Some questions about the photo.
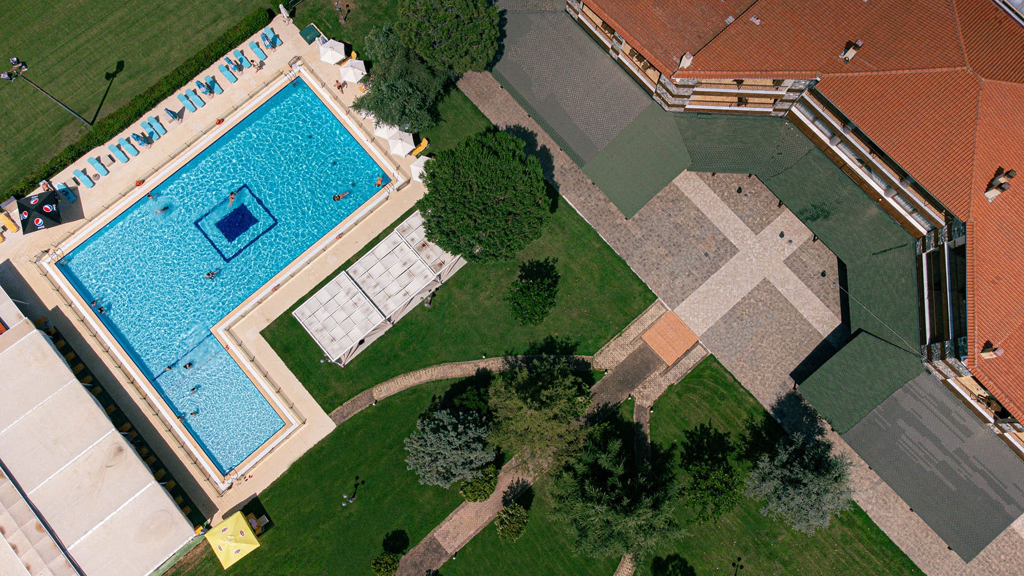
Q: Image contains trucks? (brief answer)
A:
No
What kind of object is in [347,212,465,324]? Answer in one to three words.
gazebo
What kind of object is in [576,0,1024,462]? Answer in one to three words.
building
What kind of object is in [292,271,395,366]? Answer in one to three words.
gazebo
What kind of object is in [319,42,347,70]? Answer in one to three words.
umbrella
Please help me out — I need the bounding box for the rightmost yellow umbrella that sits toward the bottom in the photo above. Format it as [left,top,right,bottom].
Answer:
[205,510,261,569]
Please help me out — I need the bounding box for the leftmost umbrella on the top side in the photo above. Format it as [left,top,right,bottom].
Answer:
[17,191,63,234]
